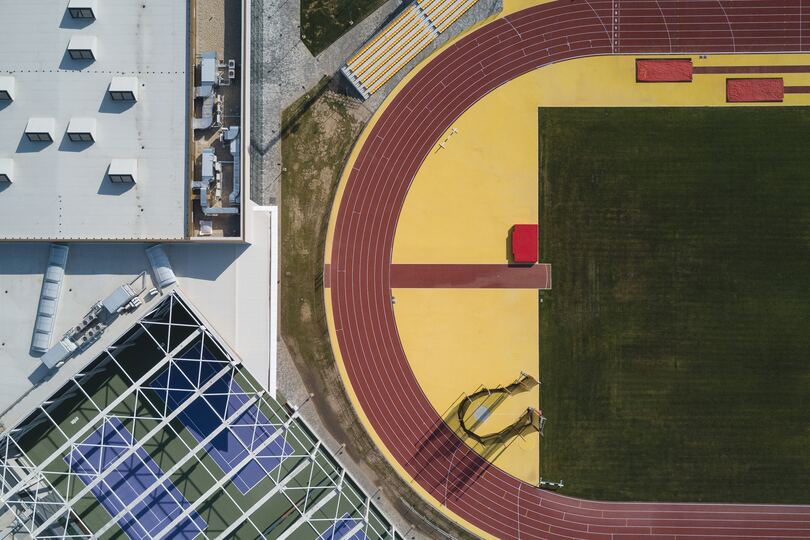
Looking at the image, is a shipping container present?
No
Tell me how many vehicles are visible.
none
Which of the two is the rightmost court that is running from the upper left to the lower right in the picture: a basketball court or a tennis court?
tennis court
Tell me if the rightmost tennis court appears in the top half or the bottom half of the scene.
bottom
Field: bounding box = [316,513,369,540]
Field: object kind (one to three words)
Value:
tennis court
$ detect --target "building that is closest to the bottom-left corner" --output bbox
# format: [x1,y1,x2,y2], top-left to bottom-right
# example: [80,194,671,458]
[0,199,281,445]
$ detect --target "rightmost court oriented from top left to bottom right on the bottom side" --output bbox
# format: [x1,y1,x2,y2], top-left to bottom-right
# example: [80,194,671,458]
[150,341,294,495]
